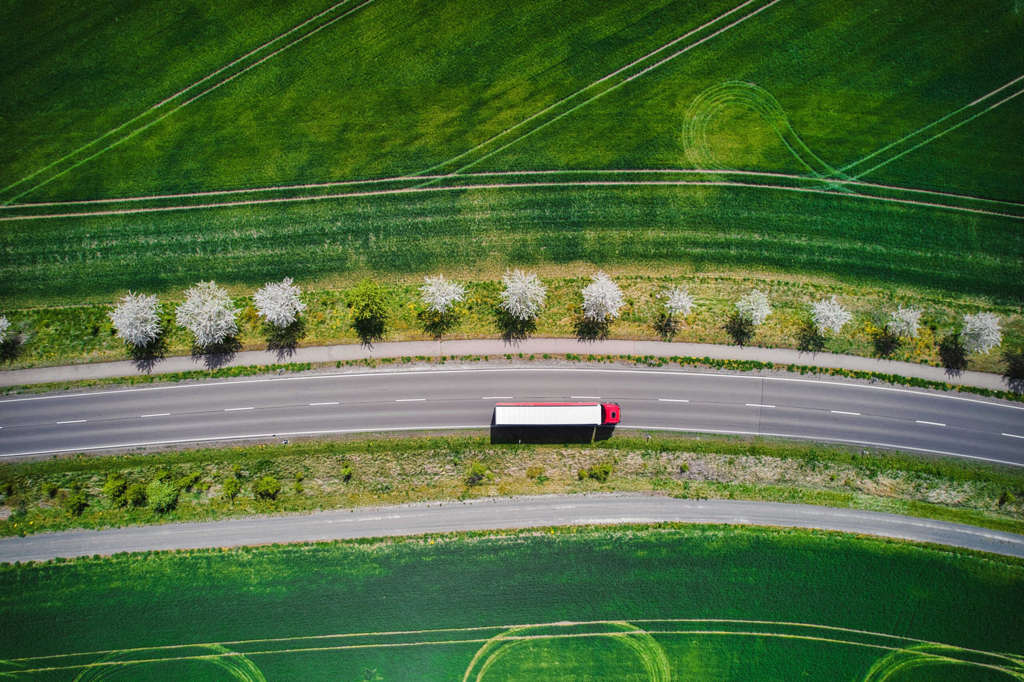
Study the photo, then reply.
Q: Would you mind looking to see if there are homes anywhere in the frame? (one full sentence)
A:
No, there's no home here.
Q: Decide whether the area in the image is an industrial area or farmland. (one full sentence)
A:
It's farmland.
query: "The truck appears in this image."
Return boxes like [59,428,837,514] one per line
[496,402,621,425]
